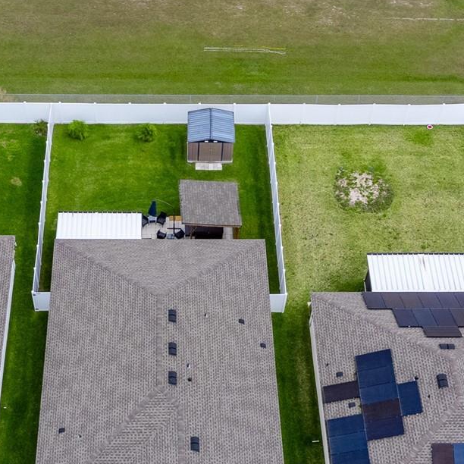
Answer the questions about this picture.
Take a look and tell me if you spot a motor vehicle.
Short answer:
No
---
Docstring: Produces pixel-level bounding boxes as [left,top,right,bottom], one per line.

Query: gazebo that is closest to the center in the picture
[178,179,244,239]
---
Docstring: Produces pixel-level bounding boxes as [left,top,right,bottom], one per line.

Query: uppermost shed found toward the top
[186,107,237,162]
